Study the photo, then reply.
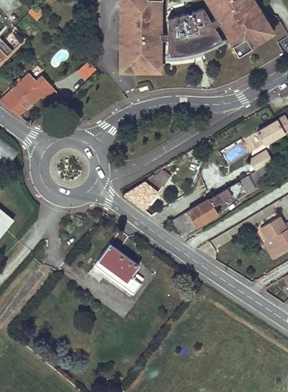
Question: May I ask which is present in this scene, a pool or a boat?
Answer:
pool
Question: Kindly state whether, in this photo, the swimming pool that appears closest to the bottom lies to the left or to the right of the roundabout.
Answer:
to the right of it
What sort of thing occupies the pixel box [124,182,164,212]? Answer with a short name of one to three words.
house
